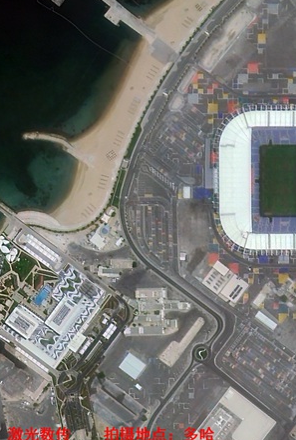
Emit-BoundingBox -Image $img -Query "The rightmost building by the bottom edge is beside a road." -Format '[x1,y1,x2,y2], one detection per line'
[221,386,279,440]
